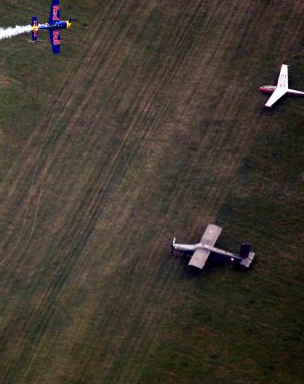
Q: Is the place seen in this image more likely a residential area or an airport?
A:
airport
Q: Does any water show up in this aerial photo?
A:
No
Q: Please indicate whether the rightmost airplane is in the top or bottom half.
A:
top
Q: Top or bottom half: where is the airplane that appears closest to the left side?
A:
top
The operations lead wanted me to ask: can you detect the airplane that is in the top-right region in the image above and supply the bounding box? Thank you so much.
[260,66,304,105]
